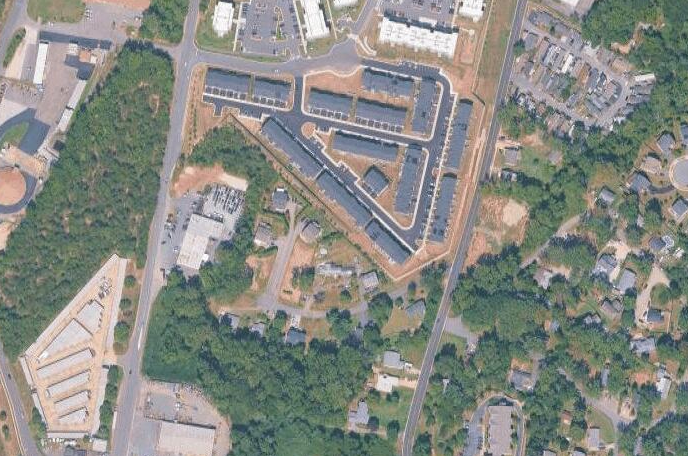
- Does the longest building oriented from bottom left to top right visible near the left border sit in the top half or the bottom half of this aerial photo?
bottom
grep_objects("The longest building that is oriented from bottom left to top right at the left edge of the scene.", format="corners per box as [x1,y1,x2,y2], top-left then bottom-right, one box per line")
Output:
[25,255,118,357]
